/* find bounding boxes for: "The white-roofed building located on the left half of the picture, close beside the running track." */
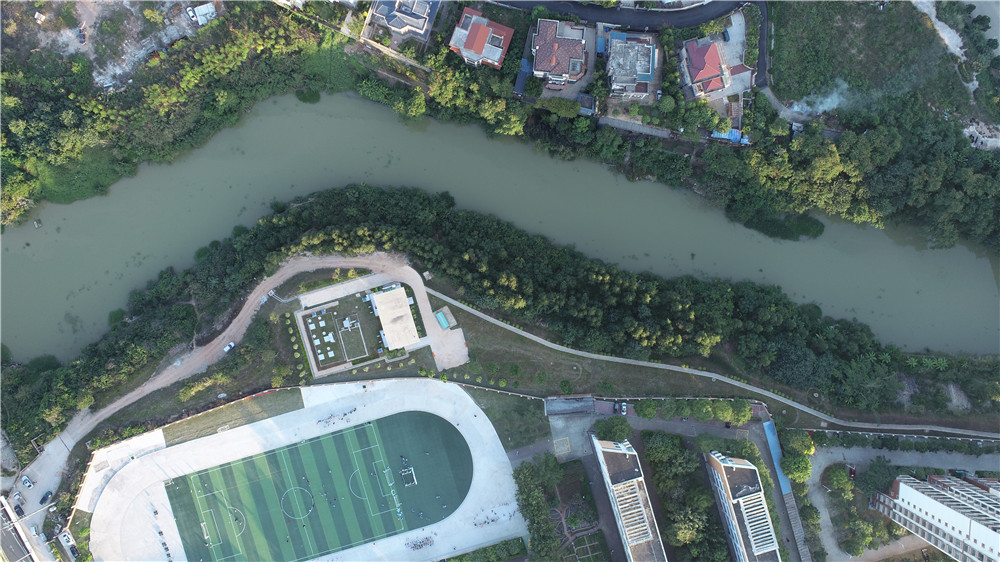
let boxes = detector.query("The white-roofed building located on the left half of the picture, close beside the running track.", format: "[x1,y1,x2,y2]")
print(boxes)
[369,285,421,351]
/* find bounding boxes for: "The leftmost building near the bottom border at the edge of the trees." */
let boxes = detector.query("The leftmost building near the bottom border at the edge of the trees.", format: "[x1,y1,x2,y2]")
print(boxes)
[593,435,668,562]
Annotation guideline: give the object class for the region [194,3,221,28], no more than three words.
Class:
shed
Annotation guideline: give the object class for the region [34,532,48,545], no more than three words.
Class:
vehicle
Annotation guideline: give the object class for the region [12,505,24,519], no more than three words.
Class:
vehicle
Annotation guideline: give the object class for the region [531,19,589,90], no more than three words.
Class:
house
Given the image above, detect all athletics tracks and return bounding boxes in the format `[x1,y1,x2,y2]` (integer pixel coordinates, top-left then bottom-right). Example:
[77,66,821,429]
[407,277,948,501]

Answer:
[77,379,528,562]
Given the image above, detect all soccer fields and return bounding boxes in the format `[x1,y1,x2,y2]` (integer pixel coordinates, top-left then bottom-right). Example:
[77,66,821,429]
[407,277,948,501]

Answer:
[165,411,473,562]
